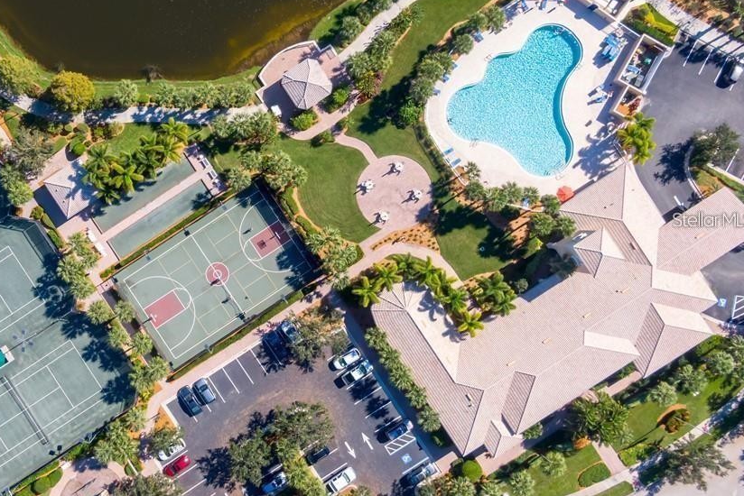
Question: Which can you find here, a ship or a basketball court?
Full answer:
The image shows a basketball court.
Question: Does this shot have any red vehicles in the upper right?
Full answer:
No, I can find no red vehicle in the upper right.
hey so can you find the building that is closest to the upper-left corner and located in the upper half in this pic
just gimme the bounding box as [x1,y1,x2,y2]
[43,158,100,221]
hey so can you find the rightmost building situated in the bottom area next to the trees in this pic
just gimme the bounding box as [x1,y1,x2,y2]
[370,164,744,458]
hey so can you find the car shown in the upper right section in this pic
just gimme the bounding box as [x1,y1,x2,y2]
[724,56,744,86]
